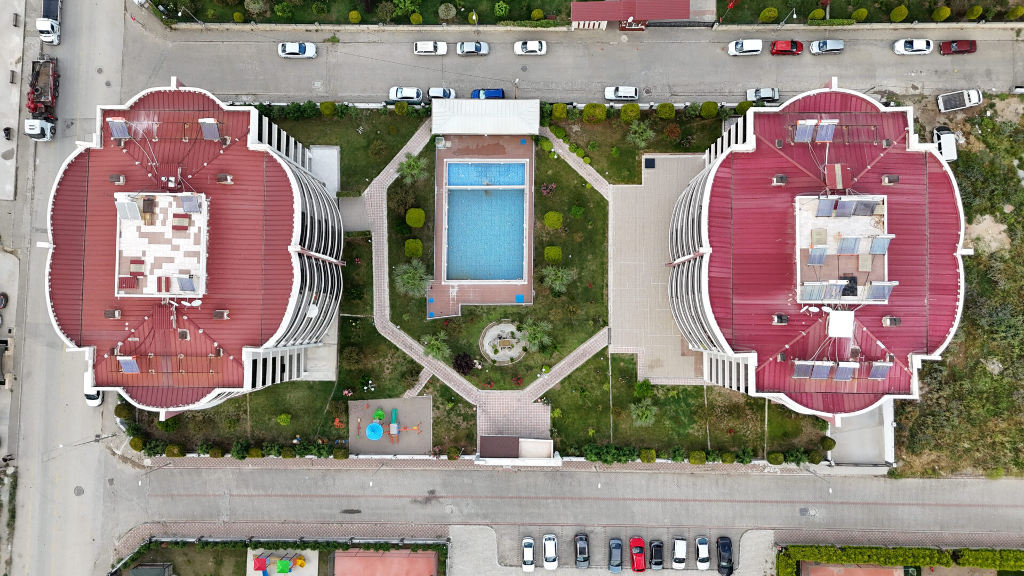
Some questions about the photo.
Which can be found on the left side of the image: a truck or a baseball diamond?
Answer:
truck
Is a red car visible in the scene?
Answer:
Yes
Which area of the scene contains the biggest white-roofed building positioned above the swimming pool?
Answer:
top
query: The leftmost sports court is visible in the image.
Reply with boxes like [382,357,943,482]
[326,551,437,576]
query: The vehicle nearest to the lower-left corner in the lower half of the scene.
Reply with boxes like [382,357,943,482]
[86,367,107,400]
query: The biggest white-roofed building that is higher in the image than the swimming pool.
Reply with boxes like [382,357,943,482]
[432,99,540,138]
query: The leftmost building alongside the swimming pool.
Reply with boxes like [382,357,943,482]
[38,77,340,419]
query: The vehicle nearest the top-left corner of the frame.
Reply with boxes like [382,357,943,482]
[38,0,64,47]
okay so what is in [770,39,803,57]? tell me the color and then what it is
red car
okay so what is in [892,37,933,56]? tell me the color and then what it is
white car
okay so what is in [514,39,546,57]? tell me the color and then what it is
white car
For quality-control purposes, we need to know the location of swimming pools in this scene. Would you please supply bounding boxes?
[426,135,534,319]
